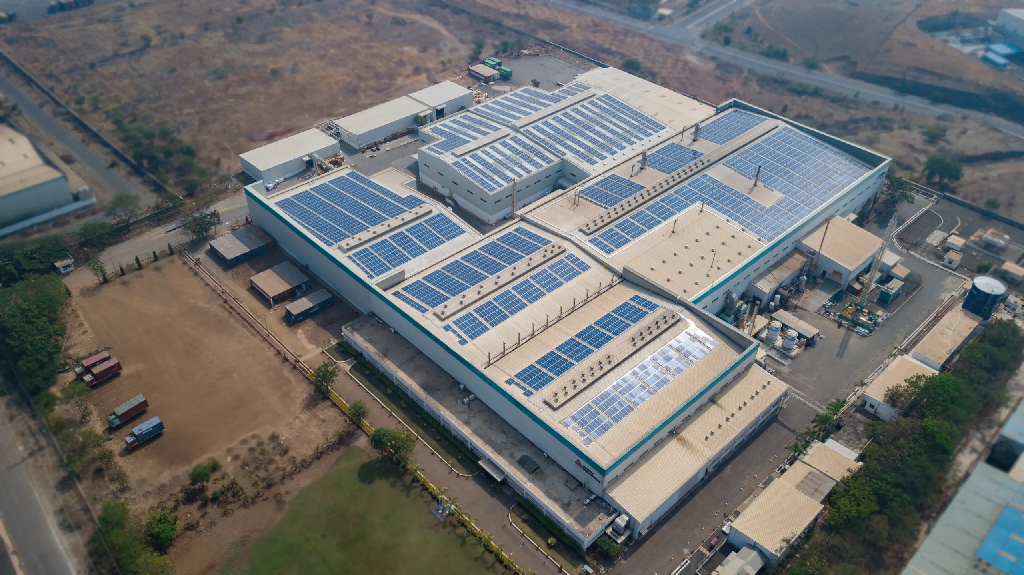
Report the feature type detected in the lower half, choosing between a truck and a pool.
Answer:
truck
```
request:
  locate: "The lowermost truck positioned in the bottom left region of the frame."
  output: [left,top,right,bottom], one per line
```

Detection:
[123,415,166,450]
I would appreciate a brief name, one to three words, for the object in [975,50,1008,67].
building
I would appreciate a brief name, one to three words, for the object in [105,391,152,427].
truck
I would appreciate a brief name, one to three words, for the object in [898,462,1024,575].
building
